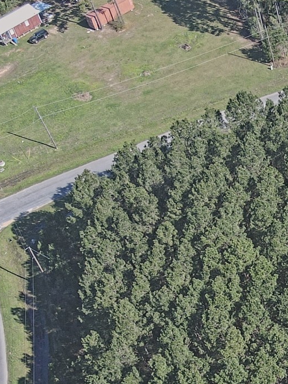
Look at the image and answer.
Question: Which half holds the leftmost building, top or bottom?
top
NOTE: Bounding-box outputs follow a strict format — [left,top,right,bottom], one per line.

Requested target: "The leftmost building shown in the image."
[0,4,43,45]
